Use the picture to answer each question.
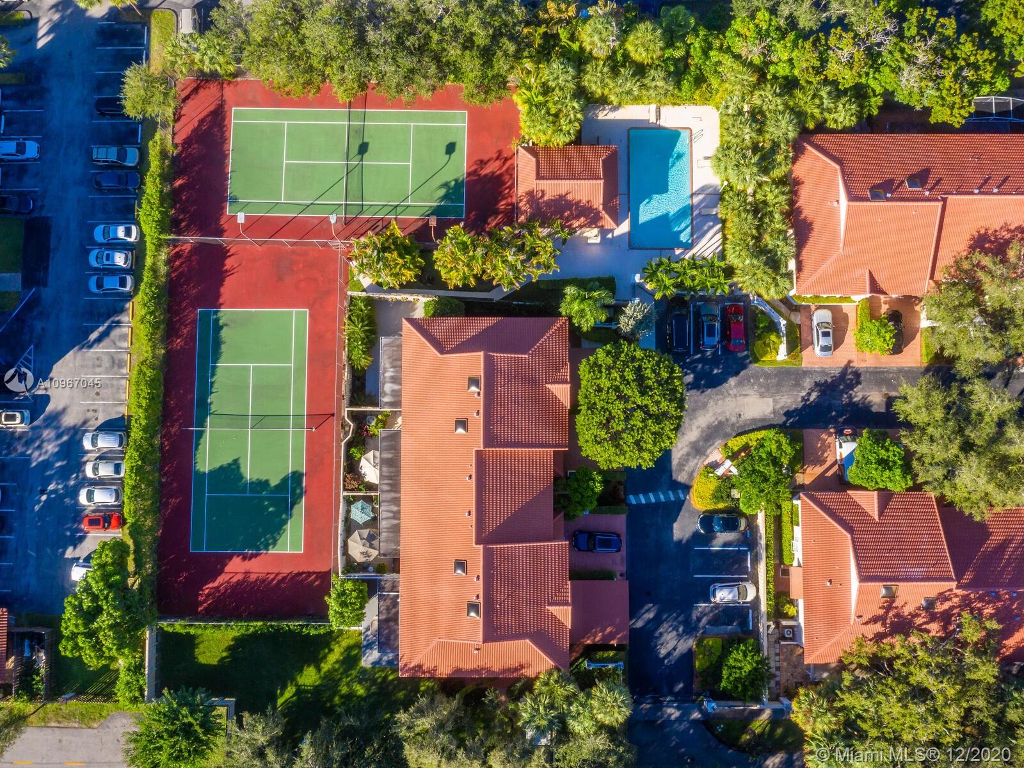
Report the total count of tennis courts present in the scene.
two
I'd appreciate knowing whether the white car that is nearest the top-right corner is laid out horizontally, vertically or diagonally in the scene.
vertically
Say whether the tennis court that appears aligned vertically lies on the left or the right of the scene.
left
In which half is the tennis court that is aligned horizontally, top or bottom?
top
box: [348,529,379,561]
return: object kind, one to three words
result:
umbrella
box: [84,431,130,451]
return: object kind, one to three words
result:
car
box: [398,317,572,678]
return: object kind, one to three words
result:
house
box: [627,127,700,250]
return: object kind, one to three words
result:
swimming pool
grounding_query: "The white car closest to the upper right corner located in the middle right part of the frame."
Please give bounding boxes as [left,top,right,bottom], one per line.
[810,310,834,357]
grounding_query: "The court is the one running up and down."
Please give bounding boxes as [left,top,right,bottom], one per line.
[157,246,345,619]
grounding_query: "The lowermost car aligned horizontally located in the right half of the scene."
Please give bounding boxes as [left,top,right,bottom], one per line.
[709,581,756,604]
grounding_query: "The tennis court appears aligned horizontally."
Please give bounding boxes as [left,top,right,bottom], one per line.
[173,78,517,246]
